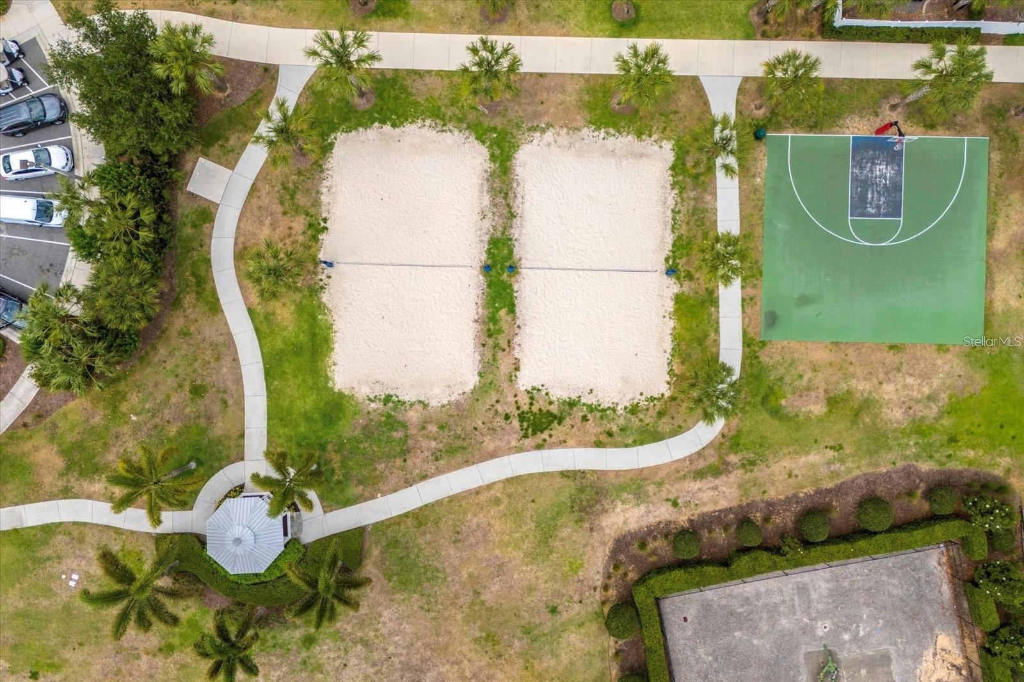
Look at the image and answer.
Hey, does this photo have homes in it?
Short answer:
No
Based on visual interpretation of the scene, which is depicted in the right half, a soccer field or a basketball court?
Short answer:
basketball court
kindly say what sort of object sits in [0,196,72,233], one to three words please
car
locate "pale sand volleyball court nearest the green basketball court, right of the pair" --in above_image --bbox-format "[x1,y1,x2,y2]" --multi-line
[509,128,677,406]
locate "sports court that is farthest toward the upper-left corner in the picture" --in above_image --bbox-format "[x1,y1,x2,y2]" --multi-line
[316,121,493,405]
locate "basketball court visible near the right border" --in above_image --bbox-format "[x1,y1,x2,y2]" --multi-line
[761,135,989,344]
